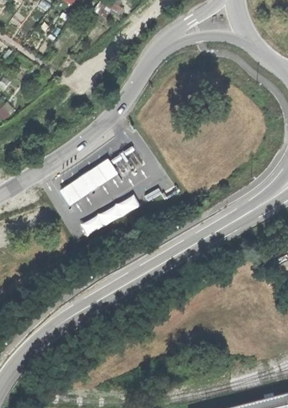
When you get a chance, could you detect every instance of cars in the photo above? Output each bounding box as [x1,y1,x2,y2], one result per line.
[116,102,126,113]
[76,142,87,151]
